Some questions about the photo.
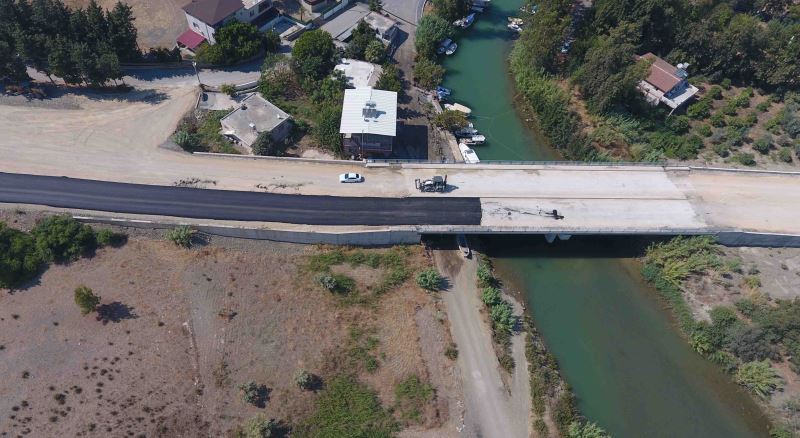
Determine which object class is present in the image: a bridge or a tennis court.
bridge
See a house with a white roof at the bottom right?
No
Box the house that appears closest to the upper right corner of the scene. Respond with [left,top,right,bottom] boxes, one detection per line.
[630,55,699,117]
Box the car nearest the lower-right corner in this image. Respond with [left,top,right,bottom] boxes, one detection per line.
[456,236,470,256]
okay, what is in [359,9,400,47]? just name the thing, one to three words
house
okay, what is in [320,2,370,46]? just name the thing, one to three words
shed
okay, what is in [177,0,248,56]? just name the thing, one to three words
house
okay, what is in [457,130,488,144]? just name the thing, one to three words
boat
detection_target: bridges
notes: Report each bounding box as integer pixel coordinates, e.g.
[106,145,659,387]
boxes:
[362,160,715,245]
